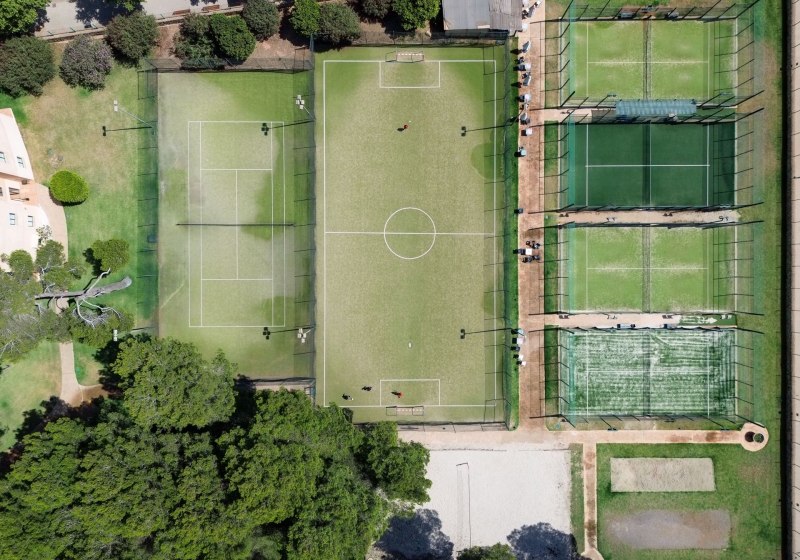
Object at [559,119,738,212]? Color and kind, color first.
green sports court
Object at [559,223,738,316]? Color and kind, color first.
green sports court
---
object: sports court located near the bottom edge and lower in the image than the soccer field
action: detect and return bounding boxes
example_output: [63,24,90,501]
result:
[368,450,571,560]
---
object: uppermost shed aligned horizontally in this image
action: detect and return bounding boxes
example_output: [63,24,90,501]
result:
[444,0,521,37]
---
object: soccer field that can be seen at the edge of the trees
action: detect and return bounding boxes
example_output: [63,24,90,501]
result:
[316,44,506,425]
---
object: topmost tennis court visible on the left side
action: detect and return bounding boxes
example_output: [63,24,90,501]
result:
[158,71,316,380]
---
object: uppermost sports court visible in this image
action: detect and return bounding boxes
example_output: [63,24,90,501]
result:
[559,17,738,109]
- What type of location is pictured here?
sports ground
